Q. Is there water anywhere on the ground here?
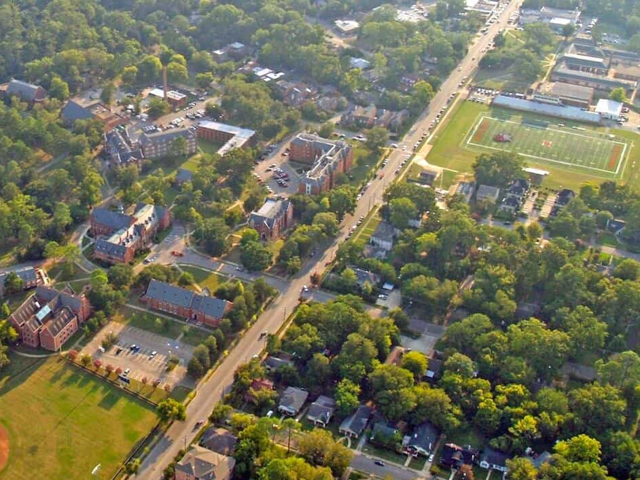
No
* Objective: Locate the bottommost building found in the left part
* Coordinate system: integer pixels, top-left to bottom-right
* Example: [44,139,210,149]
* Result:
[174,443,237,480]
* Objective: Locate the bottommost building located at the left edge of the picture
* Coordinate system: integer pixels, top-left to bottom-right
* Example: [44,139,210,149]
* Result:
[7,281,94,350]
